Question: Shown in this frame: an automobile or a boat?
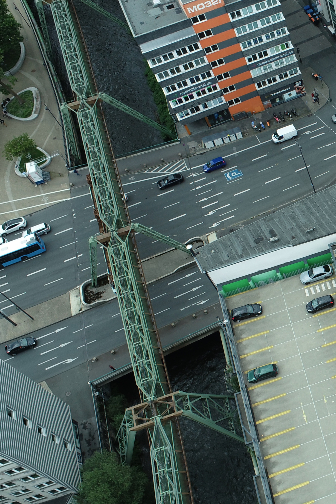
automobile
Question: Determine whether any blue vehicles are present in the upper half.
Yes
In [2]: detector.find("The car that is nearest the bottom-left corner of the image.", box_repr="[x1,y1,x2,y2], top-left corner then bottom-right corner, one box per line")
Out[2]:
[5,336,38,356]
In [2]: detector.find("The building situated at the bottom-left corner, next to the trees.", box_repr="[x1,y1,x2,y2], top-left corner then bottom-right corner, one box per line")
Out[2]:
[0,356,80,504]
